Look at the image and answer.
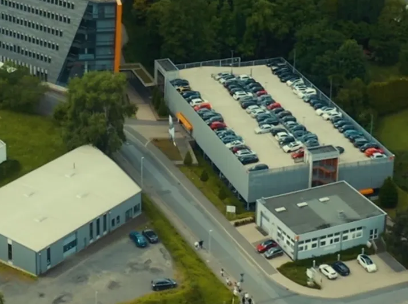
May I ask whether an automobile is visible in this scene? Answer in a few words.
Yes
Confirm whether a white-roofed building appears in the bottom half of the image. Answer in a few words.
Yes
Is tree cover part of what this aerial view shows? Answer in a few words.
Yes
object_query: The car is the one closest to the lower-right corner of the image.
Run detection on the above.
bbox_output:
[352,255,381,272]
